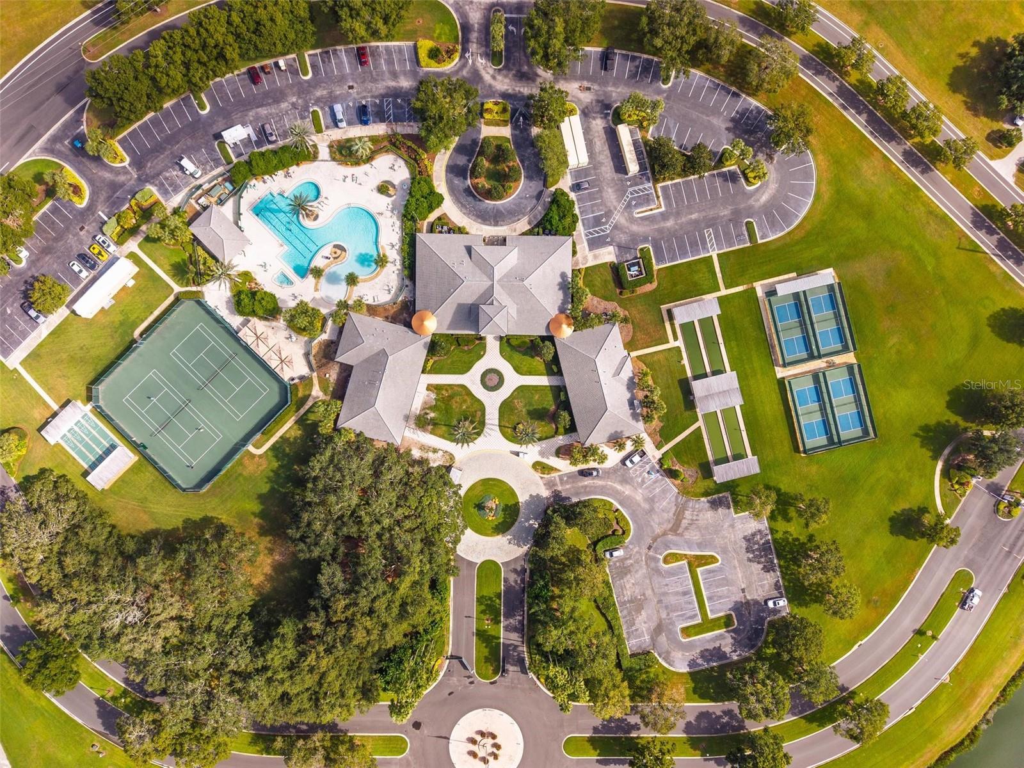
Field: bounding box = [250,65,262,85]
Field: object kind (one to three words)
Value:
vehicle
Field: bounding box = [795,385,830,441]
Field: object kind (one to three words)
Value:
sports court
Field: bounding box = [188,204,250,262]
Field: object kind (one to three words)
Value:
building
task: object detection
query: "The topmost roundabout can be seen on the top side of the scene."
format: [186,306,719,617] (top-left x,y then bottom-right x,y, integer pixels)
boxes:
[468,99,524,203]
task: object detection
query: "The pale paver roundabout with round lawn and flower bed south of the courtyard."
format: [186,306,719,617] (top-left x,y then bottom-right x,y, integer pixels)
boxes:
[435,450,546,563]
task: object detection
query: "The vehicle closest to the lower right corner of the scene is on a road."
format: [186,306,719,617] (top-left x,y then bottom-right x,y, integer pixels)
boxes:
[962,588,979,612]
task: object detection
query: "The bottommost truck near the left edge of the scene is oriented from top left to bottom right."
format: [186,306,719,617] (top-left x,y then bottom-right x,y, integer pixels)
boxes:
[21,302,45,323]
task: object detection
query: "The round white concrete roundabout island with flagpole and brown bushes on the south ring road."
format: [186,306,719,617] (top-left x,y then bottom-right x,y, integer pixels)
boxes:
[449,708,524,768]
